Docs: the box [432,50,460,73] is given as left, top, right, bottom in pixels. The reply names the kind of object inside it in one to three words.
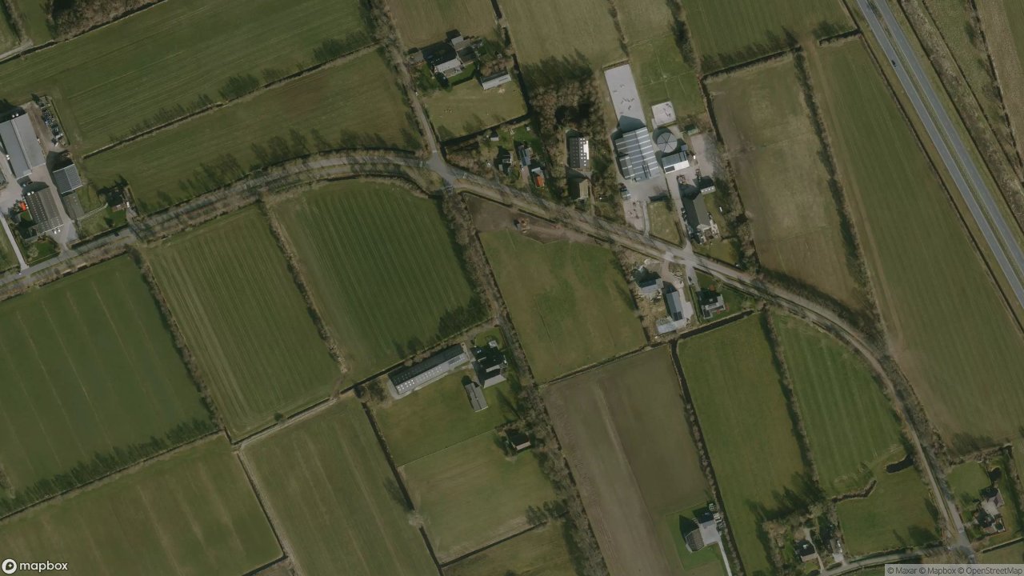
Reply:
house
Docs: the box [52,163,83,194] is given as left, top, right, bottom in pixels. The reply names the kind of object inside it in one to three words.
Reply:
barn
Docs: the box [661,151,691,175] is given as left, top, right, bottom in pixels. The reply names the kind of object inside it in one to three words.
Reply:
building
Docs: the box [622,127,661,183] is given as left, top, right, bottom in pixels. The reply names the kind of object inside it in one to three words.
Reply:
building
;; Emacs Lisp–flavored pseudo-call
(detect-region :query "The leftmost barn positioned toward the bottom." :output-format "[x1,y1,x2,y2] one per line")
[392,346,468,393]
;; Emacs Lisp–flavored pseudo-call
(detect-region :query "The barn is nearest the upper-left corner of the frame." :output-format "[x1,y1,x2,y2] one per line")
[0,113,46,175]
